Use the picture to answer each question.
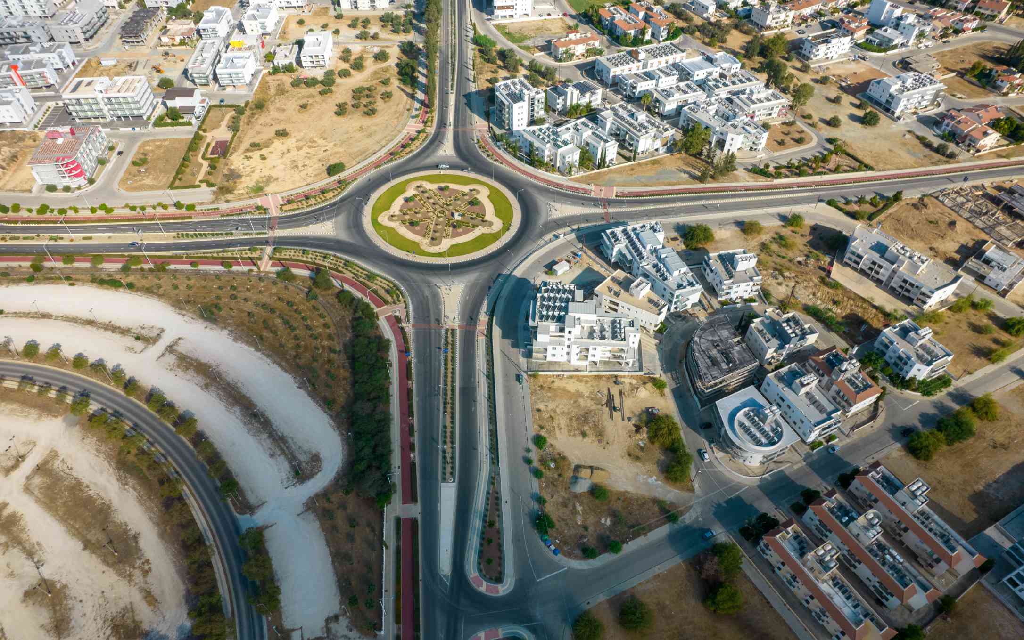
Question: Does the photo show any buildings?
Yes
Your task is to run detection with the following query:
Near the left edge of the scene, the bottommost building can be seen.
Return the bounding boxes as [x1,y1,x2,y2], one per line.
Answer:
[28,123,112,192]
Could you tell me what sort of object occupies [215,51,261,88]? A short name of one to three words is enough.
building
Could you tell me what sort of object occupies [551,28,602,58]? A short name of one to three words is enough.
house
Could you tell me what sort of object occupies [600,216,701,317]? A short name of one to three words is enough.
building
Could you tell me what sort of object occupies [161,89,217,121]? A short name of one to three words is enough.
house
